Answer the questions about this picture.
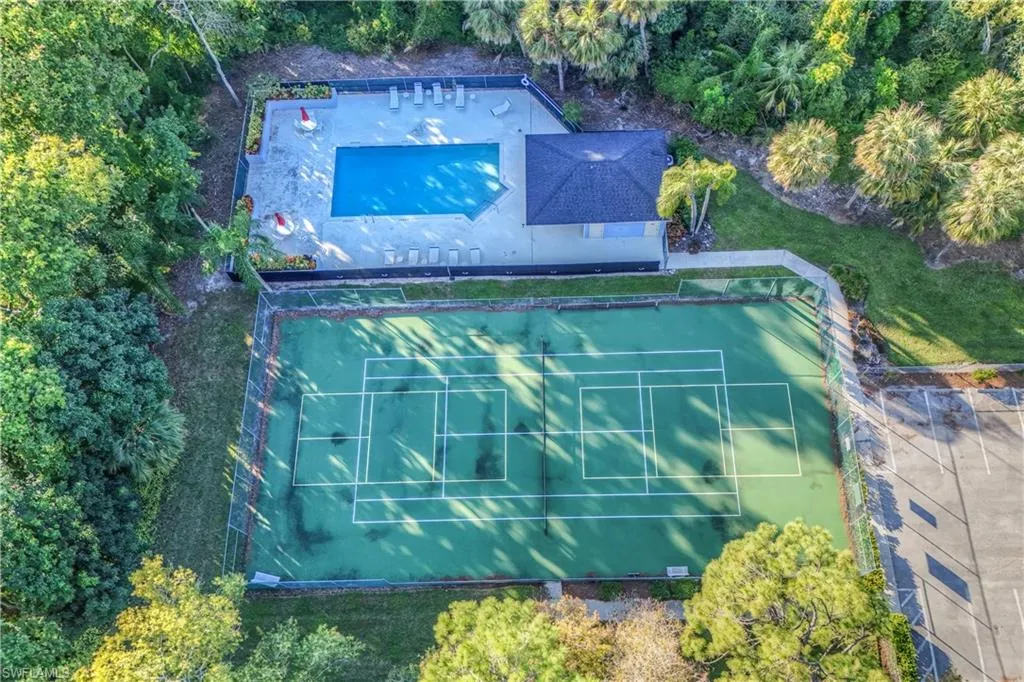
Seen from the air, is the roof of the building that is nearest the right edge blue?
Yes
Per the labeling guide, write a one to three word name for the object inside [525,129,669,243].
building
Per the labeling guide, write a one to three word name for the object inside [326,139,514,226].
swimming pool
